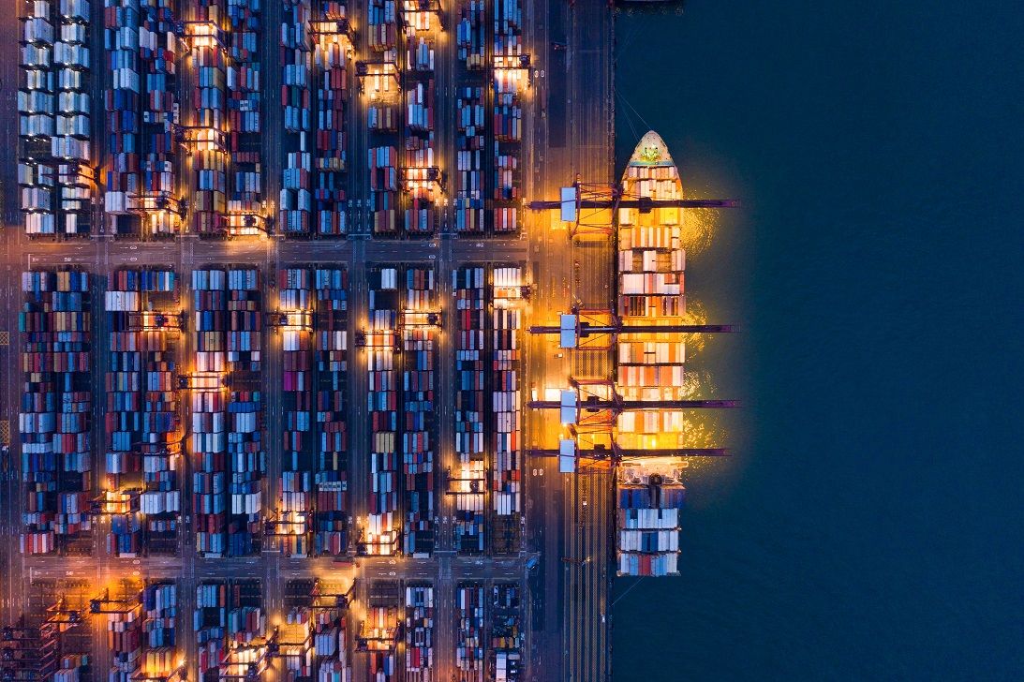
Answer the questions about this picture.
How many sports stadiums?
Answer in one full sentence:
There are no sports stadiums in this view.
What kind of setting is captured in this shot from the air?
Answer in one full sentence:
What you see here is a port.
